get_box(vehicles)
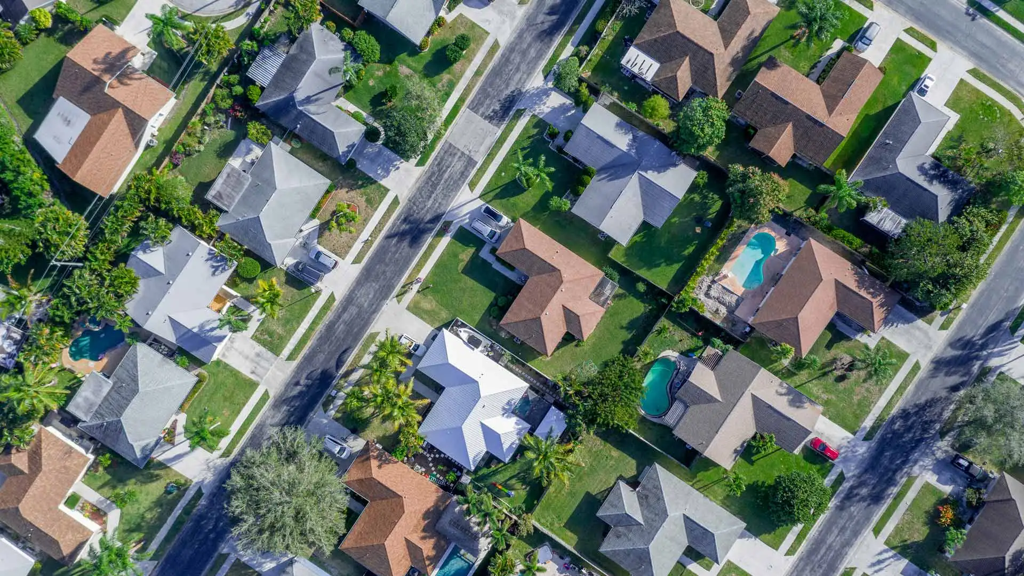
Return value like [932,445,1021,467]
[469,217,501,244]
[808,435,841,461]
[321,432,353,460]
[396,331,429,359]
[913,73,937,99]
[855,19,882,54]
[308,245,340,270]
[950,452,990,484]
[285,259,324,287]
[480,202,511,230]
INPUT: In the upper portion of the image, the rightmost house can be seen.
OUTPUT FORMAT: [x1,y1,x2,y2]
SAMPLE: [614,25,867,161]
[848,91,976,228]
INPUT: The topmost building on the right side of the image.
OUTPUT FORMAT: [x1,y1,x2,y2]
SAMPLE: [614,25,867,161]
[632,0,781,102]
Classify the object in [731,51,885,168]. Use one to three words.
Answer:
house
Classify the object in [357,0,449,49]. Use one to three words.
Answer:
house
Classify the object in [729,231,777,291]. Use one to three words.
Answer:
swimming pool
